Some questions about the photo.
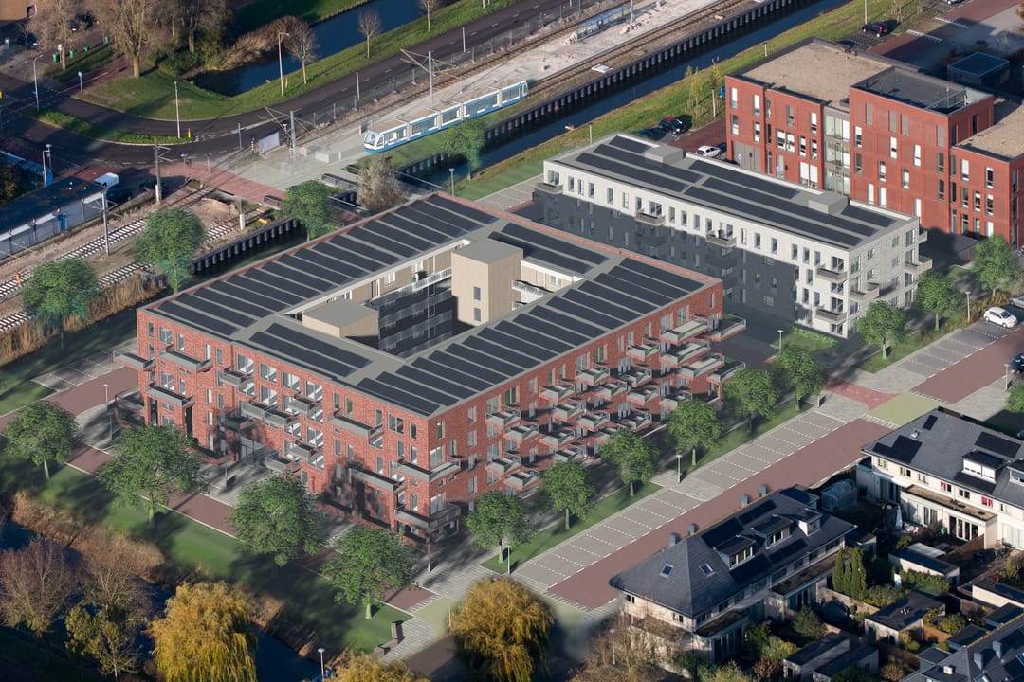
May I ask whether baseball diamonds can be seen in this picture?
No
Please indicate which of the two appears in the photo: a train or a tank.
train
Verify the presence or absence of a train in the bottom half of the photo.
No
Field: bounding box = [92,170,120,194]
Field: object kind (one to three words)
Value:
vehicle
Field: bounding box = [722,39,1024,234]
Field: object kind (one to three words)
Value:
building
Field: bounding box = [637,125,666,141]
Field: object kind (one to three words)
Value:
car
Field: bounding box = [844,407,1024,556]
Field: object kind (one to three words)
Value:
house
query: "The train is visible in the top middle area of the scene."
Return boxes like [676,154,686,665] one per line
[359,77,519,154]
